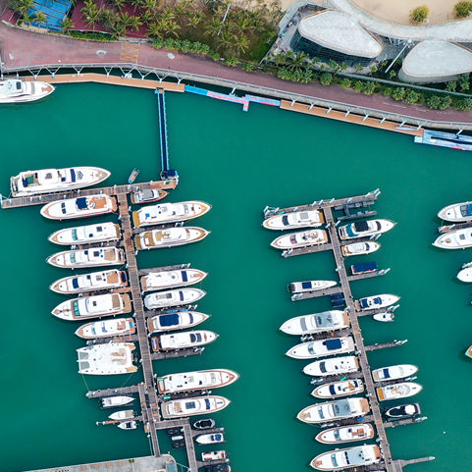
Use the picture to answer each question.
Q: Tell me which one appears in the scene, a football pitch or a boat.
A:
boat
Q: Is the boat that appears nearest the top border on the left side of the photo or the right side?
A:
left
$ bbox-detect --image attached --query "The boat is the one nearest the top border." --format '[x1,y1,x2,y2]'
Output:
[0,74,56,102]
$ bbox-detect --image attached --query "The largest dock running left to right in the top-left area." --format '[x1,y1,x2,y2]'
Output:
[29,67,184,93]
